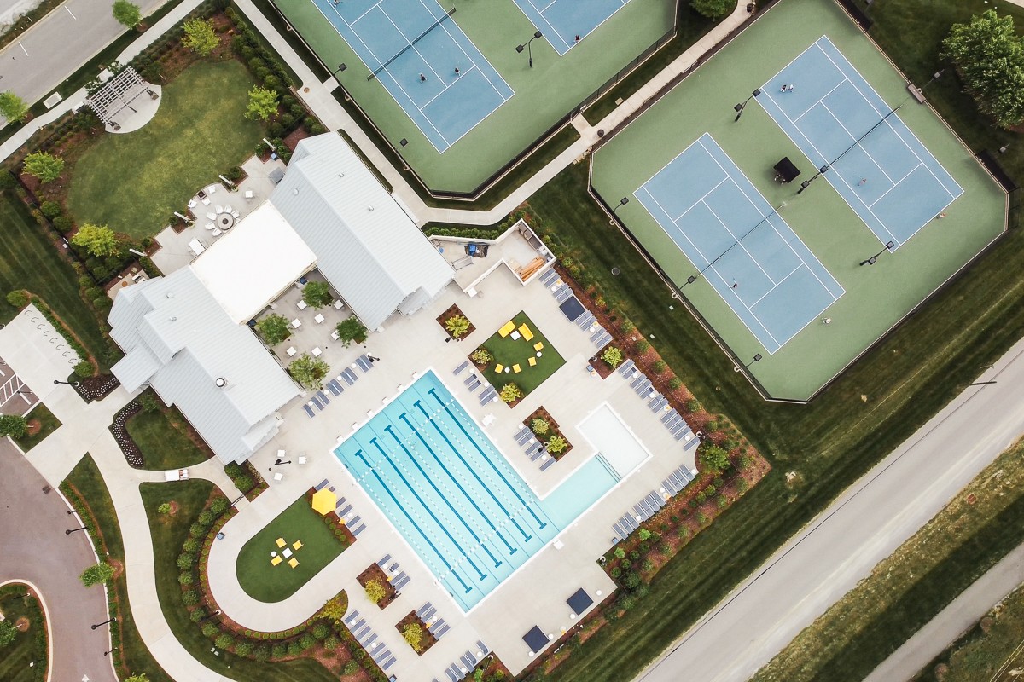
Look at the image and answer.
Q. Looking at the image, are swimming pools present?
Yes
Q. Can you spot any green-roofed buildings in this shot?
No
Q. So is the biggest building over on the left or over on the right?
left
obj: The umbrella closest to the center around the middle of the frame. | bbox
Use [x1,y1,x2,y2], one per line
[560,295,586,322]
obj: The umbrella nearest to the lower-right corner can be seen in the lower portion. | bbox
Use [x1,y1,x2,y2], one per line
[567,587,594,615]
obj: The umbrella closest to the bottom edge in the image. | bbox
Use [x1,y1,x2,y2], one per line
[522,625,550,654]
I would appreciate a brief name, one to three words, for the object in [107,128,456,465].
building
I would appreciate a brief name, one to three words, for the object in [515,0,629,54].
tennis court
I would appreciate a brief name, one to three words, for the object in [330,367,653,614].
swimming pool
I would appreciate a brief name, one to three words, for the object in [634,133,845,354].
tennis court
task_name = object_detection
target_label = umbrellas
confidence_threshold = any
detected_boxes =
[312,488,337,516]
[560,295,586,322]
[522,625,550,654]
[567,587,594,615]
